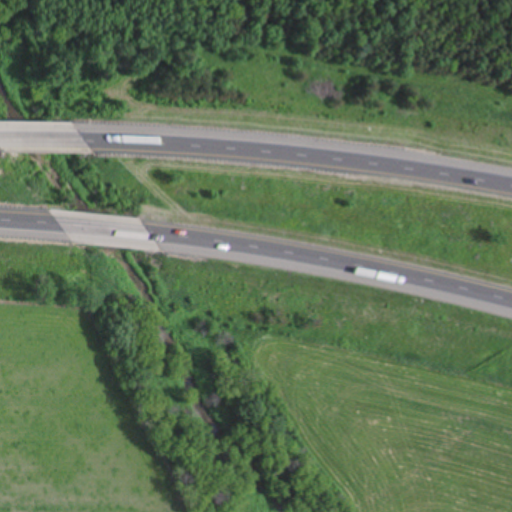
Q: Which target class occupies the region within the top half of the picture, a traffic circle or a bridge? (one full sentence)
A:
What appears within the top half of the picture is a bridge.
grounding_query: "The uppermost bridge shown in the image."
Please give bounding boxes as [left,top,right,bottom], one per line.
[0,120,94,156]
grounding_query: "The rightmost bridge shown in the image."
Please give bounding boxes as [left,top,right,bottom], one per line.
[50,209,160,252]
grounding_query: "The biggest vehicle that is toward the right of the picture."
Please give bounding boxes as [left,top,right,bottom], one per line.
[355,266,407,285]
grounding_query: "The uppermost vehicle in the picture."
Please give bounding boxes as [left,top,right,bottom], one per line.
[106,132,162,144]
